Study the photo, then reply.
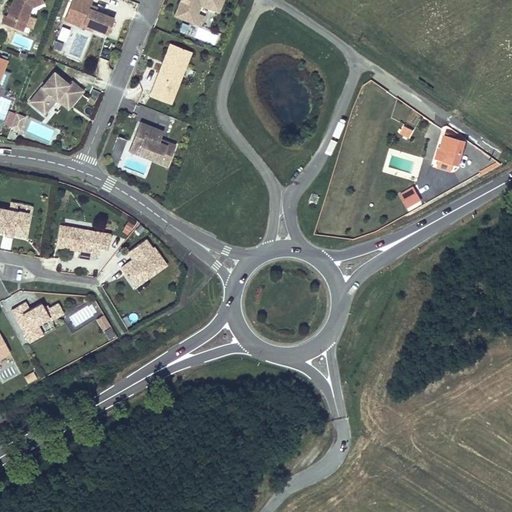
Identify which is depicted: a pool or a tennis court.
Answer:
pool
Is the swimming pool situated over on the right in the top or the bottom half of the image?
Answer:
top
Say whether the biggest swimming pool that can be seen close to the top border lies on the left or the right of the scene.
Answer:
left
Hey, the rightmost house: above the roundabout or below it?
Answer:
above it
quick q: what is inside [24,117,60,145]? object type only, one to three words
swimming pool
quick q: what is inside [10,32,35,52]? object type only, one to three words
swimming pool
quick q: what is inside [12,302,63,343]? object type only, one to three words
house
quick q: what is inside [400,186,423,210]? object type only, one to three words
building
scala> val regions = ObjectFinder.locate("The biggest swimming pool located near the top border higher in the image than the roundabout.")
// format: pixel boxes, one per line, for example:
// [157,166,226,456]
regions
[54,22,95,63]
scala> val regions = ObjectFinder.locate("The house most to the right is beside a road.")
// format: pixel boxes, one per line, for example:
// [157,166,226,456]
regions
[434,130,466,172]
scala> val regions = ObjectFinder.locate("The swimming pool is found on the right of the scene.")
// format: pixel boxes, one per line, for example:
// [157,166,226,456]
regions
[382,148,423,182]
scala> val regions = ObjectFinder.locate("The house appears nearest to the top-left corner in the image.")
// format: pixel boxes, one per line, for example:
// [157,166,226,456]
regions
[2,0,46,31]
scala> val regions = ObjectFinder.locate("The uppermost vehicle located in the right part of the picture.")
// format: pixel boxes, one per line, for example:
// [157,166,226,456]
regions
[326,119,346,154]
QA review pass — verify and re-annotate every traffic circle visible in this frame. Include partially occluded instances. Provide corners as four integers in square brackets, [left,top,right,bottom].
[8,170,512,457]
